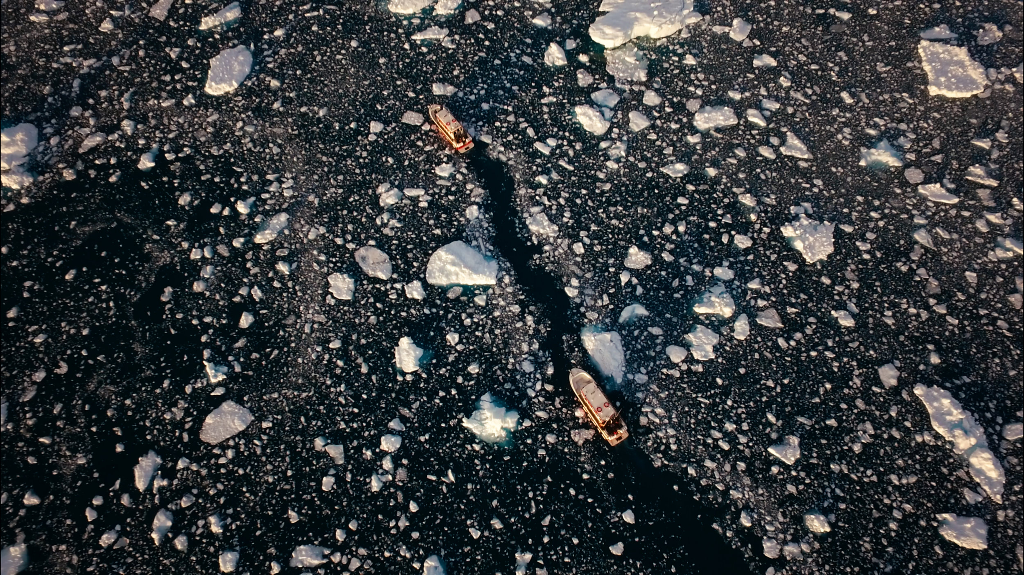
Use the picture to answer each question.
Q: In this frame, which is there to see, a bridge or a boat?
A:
boat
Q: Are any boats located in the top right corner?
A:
No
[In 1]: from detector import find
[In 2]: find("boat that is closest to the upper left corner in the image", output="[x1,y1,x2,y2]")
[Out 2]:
[427,102,473,154]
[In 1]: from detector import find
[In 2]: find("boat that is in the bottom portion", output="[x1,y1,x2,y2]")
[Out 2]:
[569,367,629,446]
